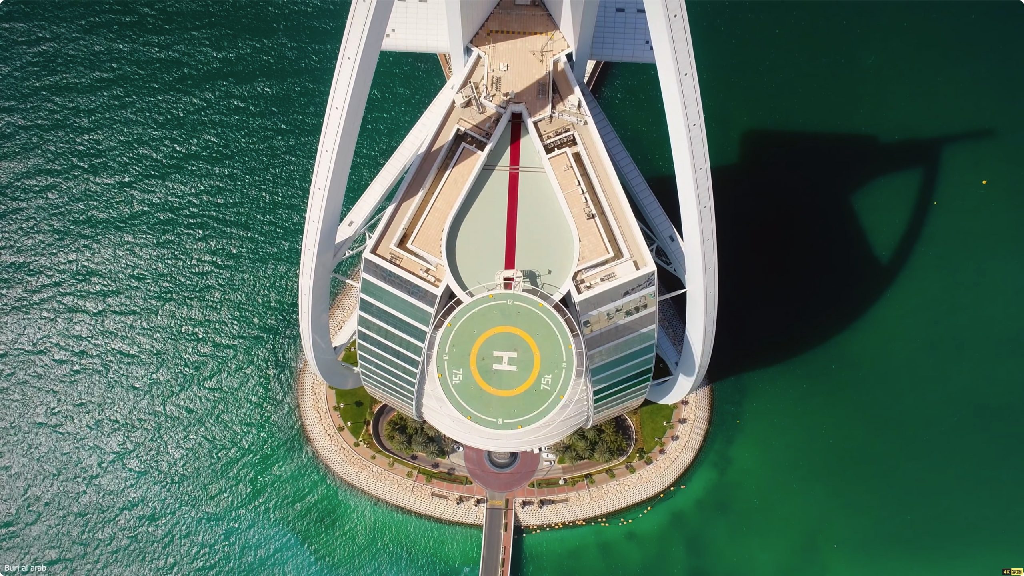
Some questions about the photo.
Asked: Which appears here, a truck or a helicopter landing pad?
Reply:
helicopter landing pad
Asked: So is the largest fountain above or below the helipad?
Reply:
below it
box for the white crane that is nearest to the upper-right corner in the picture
[550,95,587,126]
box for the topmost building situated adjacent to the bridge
[299,0,718,453]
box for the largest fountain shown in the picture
[483,450,521,473]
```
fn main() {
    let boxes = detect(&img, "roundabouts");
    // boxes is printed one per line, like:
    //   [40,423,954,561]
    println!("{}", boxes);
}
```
[463,444,553,493]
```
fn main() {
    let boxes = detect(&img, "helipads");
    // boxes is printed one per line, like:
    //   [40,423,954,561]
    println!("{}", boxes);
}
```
[424,267,586,443]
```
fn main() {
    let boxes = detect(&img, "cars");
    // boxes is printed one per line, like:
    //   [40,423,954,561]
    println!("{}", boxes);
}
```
[542,453,555,458]
[543,460,555,466]
[455,444,465,453]
[540,445,552,451]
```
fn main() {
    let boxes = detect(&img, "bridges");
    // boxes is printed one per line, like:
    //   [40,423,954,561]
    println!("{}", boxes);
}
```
[480,493,514,576]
